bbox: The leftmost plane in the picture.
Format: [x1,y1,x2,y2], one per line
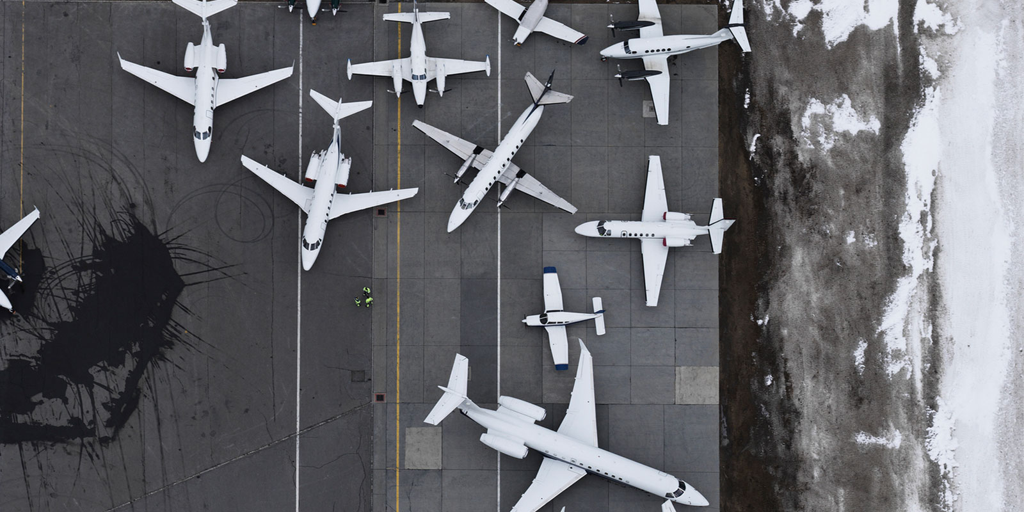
[0,199,35,308]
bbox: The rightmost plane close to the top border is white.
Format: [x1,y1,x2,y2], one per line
[600,0,752,125]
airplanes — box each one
[423,339,709,512]
[600,0,752,125]
[411,70,577,233]
[487,0,590,49]
[0,199,35,308]
[660,501,676,512]
[243,88,415,271]
[347,0,491,109]
[523,264,606,372]
[117,0,294,164]
[575,156,737,305]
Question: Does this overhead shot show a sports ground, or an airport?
airport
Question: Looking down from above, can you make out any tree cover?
No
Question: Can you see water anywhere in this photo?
No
